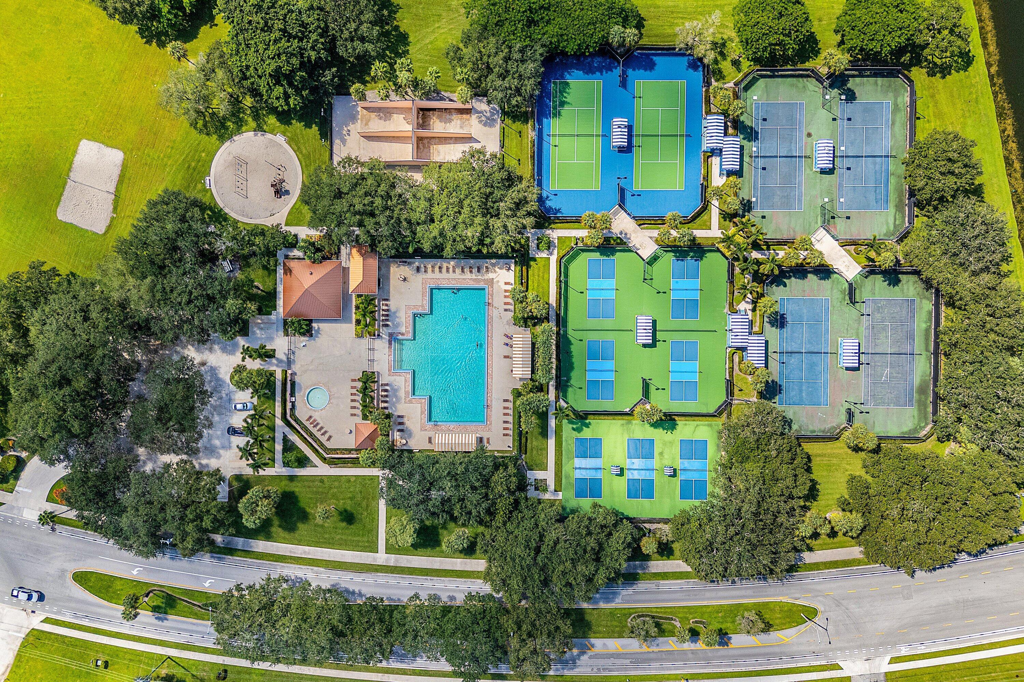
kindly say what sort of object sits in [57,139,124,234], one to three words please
sports court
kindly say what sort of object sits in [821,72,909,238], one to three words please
tennis court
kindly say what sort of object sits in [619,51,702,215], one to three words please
tennis court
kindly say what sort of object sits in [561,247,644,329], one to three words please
sports court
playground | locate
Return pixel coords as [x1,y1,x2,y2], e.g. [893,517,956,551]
[210,131,302,223]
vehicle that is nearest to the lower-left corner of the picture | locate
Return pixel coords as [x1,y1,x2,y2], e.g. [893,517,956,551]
[9,588,39,602]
